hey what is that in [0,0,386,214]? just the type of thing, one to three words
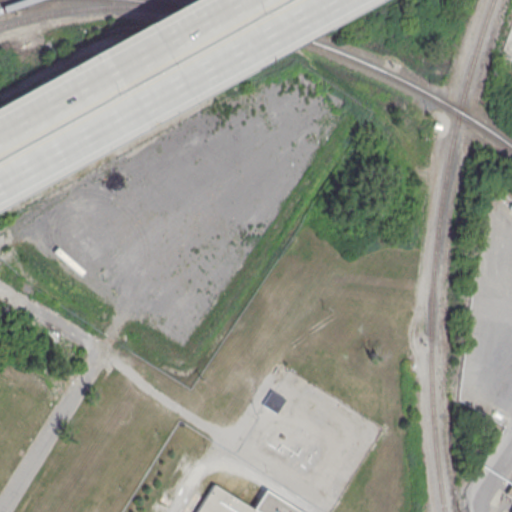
overpass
